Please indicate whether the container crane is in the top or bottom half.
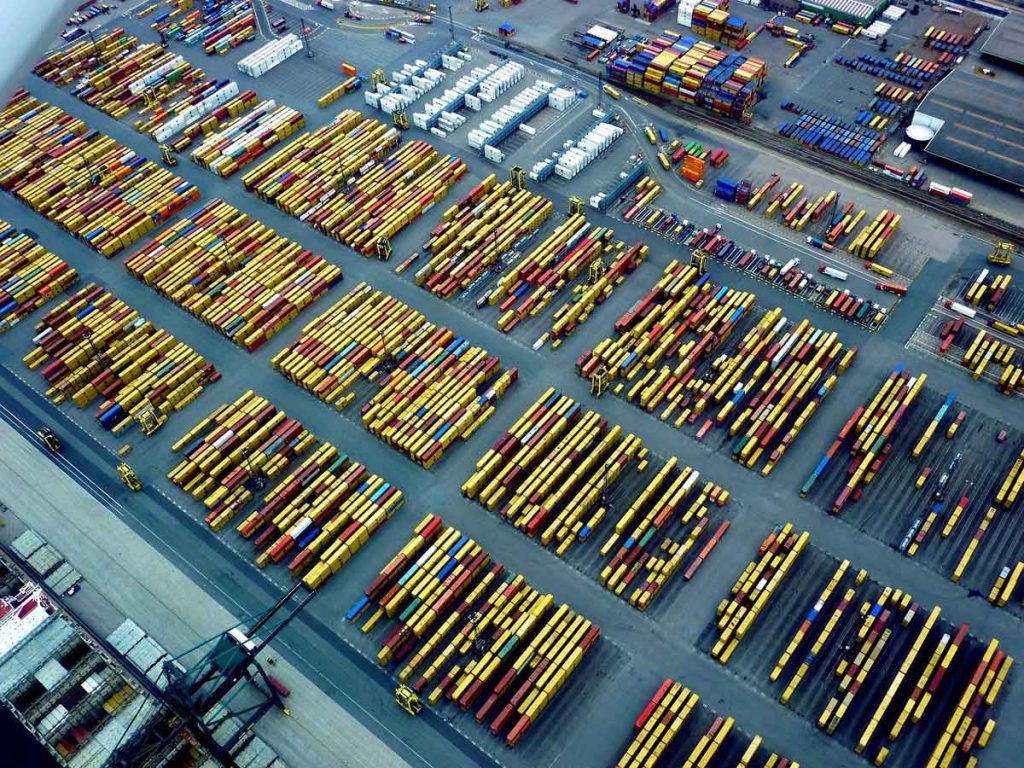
bottom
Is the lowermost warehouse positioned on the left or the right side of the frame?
right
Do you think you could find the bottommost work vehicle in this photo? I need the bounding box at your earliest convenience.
[392,681,419,711]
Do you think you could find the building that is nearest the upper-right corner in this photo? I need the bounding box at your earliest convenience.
[977,21,1024,77]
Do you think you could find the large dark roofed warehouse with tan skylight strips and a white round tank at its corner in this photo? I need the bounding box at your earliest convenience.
[911,68,1024,201]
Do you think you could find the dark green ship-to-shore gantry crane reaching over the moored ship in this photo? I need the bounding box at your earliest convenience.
[112,583,315,768]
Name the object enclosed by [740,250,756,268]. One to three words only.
vehicle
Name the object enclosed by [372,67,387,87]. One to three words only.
work vehicle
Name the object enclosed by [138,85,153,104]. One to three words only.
work vehicle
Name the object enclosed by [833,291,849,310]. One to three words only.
vehicle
